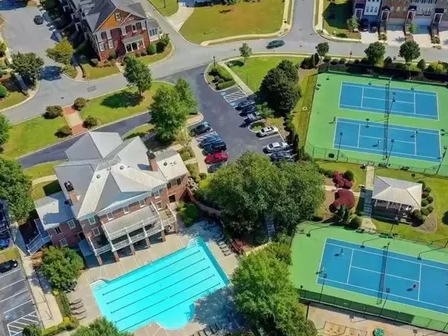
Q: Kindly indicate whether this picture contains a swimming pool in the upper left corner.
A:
No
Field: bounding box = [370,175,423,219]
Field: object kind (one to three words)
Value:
building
